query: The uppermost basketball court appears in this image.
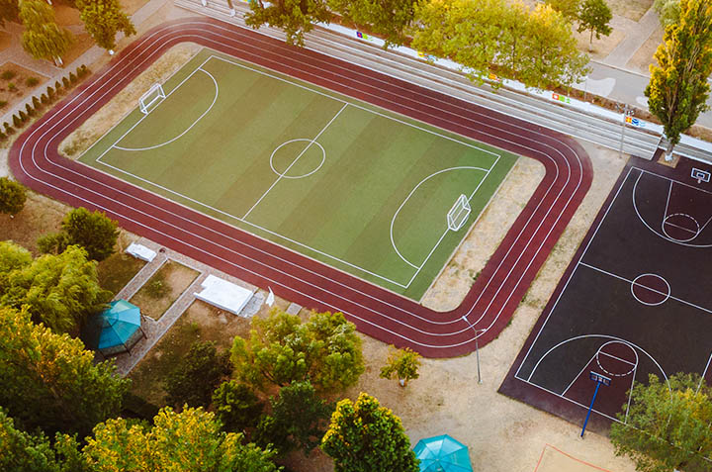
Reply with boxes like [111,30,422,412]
[516,167,712,442]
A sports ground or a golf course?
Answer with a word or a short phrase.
sports ground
